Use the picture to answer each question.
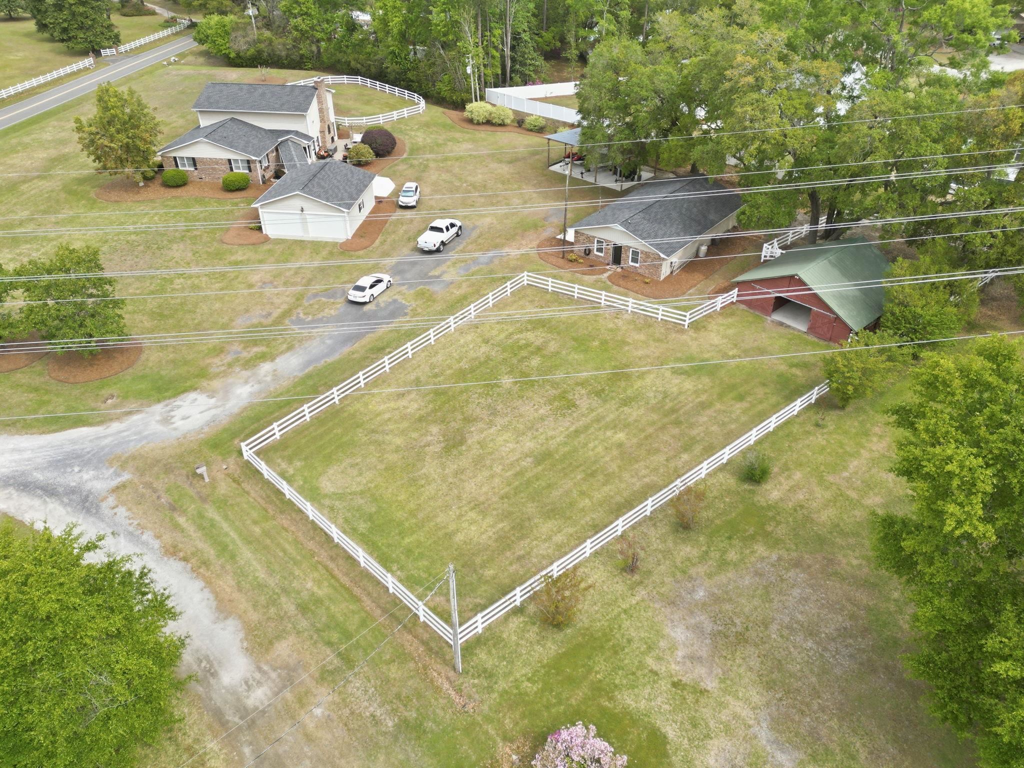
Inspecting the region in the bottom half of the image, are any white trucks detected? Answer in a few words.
No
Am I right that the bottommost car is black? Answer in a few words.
No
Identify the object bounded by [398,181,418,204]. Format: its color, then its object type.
white car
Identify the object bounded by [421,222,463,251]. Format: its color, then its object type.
white truck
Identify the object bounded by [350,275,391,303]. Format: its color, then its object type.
white car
